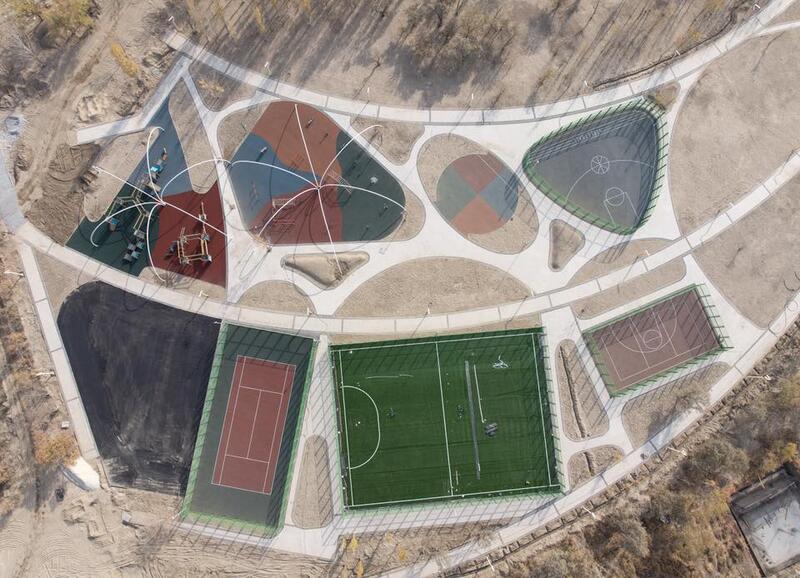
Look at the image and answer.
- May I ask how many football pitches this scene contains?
1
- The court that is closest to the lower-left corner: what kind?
tennis court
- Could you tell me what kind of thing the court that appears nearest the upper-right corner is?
basketball court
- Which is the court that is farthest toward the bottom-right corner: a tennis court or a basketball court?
basketball court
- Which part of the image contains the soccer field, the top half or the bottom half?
bottom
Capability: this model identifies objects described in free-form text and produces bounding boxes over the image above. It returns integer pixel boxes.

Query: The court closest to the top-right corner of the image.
[523,108,659,234]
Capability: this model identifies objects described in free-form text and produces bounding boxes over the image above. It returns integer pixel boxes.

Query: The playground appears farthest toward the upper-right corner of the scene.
[438,154,518,234]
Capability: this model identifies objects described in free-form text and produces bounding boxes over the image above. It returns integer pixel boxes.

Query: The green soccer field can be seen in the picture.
[330,326,561,509]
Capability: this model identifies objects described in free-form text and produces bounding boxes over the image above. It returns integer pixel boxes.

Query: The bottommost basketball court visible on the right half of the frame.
[583,286,719,394]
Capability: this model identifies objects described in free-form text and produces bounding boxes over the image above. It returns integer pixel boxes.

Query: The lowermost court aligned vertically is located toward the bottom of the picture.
[191,324,317,527]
